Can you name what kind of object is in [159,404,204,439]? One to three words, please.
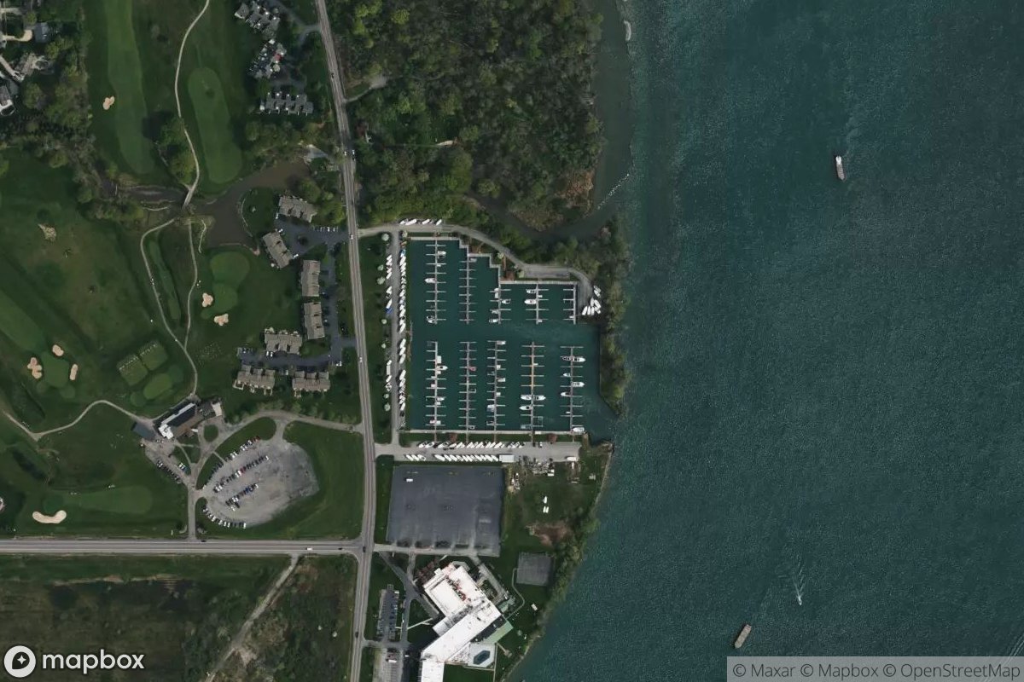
building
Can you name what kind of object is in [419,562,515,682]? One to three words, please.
building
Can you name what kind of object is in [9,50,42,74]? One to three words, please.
house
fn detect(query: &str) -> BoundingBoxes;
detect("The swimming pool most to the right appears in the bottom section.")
[470,643,495,668]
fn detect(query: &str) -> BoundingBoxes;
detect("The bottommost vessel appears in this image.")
[736,624,751,647]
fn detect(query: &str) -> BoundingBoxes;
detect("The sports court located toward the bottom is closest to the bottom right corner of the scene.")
[516,553,551,587]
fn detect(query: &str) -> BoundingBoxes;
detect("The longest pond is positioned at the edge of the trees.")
[94,158,309,249]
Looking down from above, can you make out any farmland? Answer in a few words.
No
